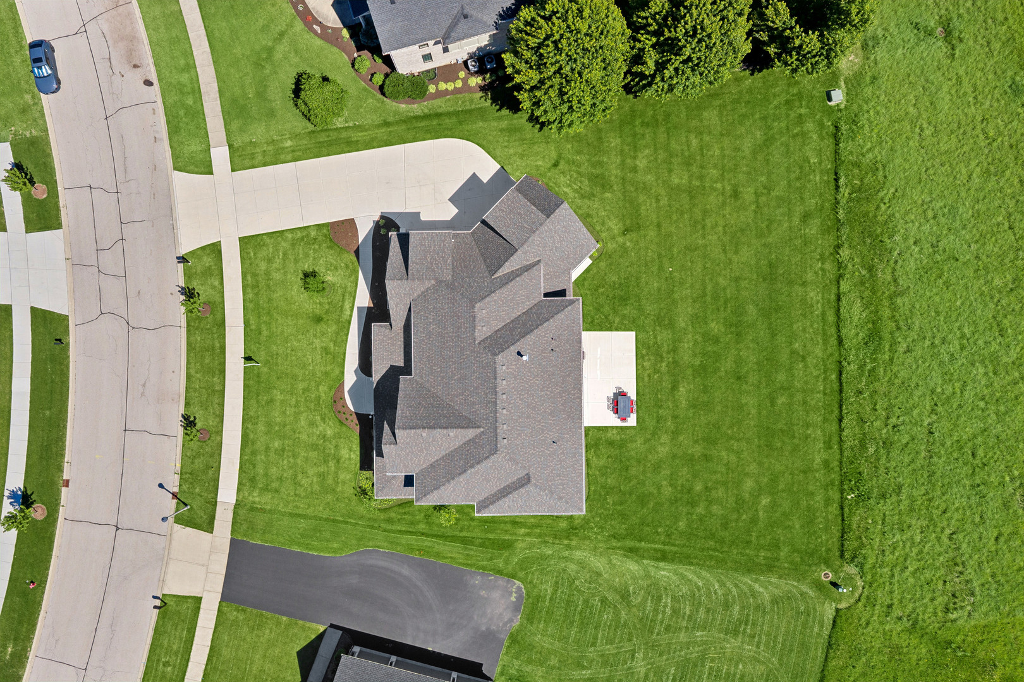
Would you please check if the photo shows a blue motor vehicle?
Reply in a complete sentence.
Yes, a blue motor vehicle appears in the view.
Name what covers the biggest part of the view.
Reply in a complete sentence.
The scene is dominated by grass.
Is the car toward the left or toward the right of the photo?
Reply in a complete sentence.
The car is on the left side of the image.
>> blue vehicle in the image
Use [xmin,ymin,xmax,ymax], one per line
[28,38,62,95]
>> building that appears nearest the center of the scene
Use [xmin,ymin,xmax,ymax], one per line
[372,173,599,517]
